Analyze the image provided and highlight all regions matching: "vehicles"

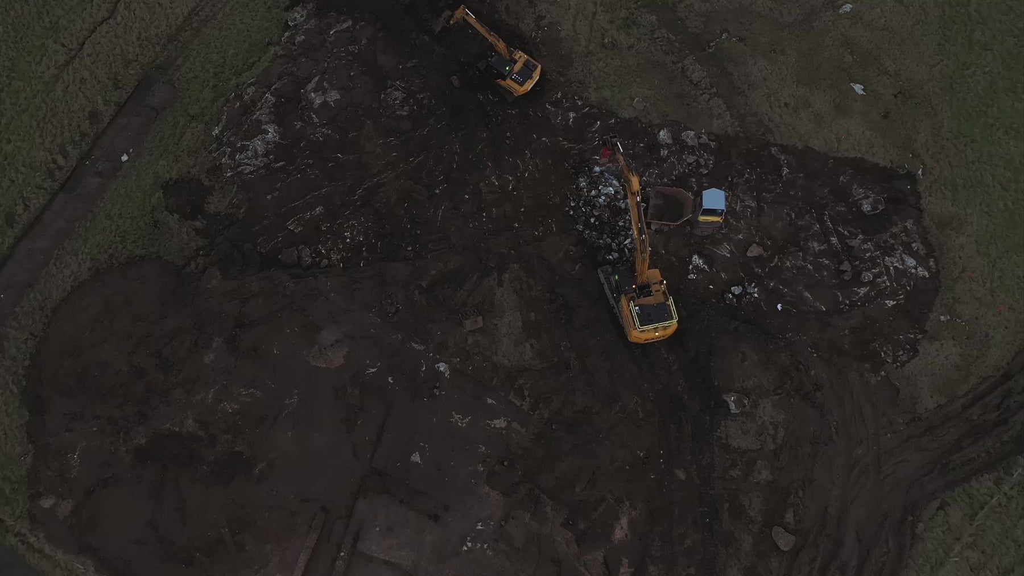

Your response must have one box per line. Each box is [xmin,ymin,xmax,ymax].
[646,188,728,237]
[597,132,680,344]
[431,0,544,104]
